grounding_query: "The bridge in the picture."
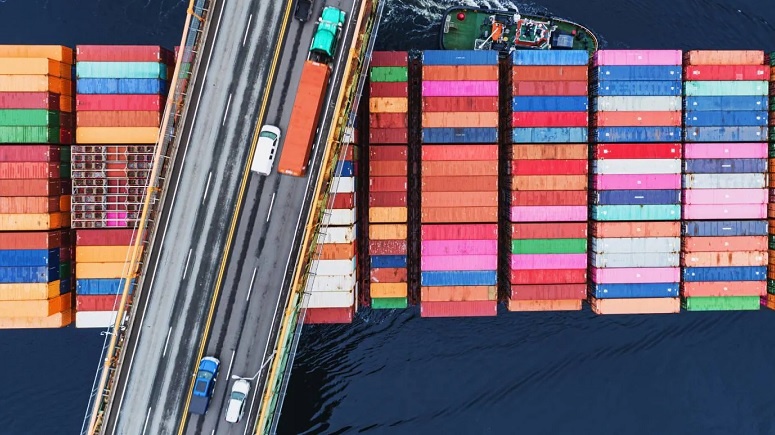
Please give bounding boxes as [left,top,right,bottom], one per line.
[83,0,388,435]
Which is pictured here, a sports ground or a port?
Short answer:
port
